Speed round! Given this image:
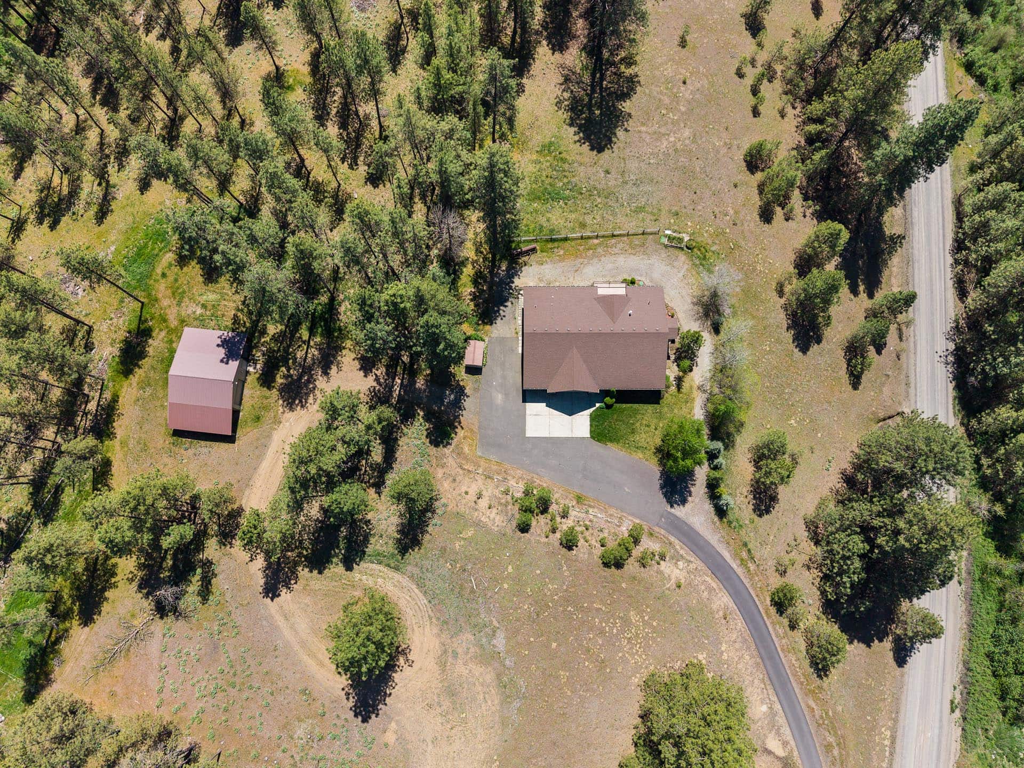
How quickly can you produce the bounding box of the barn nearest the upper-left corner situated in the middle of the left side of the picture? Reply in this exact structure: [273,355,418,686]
[167,330,252,434]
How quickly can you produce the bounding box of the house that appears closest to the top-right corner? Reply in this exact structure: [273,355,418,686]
[522,275,676,394]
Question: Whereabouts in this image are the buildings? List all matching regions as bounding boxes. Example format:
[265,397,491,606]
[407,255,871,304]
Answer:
[465,341,485,369]
[167,330,252,434]
[522,275,676,394]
